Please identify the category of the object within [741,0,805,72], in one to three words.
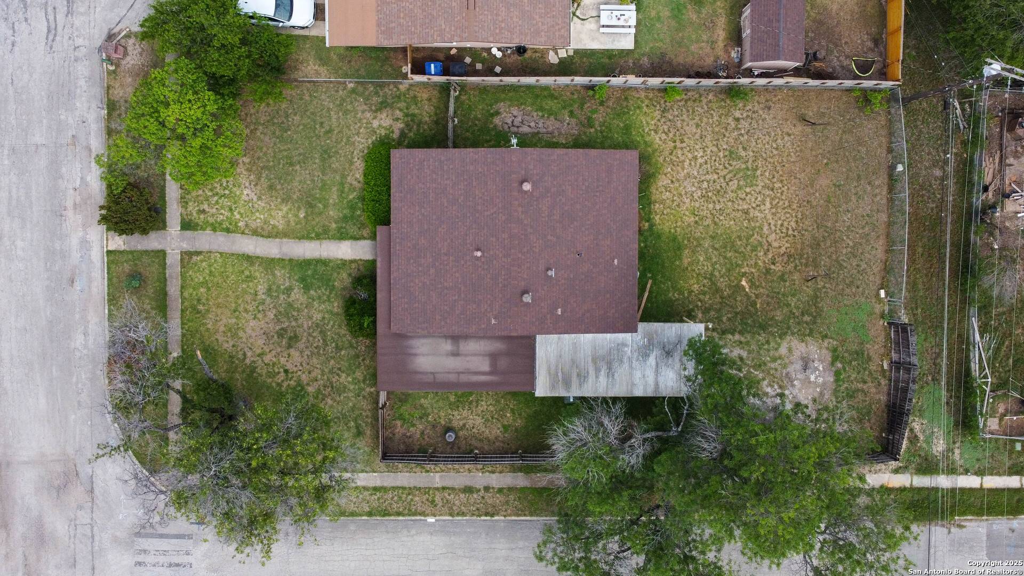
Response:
shed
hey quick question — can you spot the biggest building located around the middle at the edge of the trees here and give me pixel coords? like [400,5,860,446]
[377,146,639,392]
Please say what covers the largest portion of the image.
grass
